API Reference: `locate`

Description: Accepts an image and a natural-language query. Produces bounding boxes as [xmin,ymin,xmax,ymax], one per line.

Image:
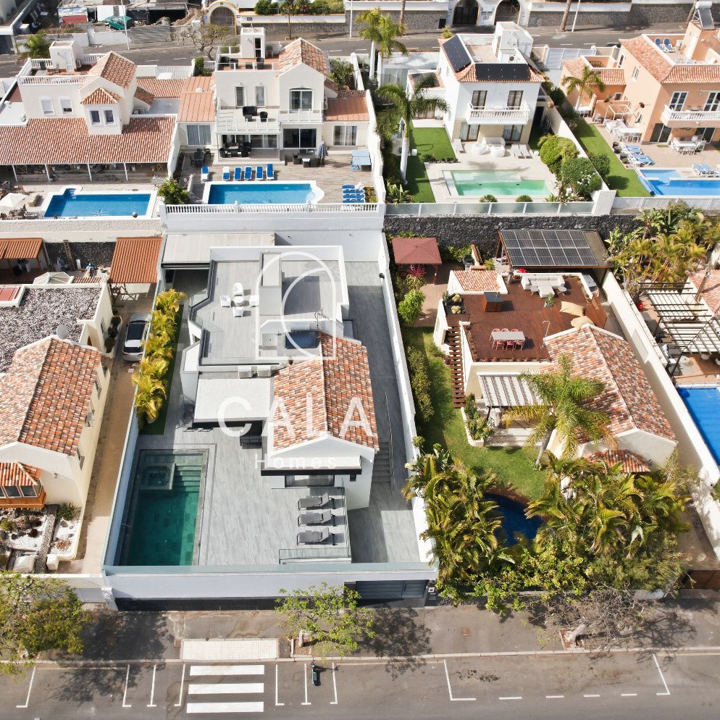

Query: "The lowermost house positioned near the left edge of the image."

[0,284,114,506]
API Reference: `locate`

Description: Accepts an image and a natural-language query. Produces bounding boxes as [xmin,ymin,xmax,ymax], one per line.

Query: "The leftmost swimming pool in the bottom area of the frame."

[121,447,211,573]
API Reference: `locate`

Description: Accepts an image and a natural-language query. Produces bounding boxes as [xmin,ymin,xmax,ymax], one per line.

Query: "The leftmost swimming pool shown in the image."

[38,186,156,216]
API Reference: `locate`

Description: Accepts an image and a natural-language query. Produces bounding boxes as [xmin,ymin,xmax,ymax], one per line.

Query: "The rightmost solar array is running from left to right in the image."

[503,230,595,265]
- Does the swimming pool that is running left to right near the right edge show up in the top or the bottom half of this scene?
top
